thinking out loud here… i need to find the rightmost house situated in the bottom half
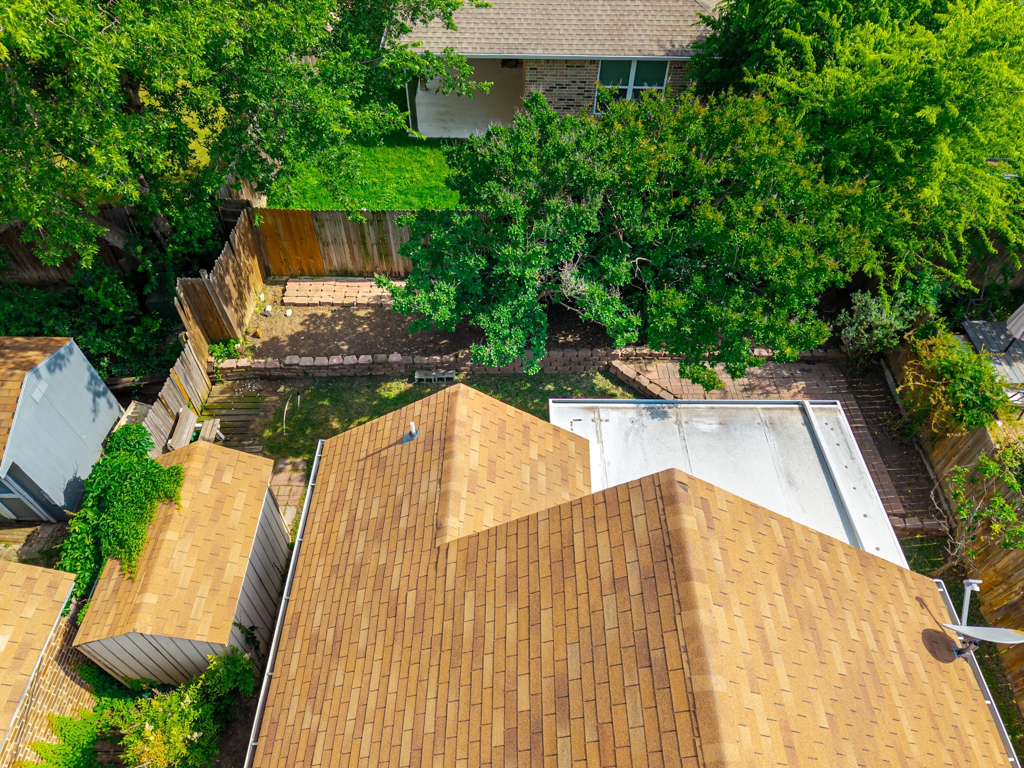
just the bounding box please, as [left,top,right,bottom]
[240,383,1024,768]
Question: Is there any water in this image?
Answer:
No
